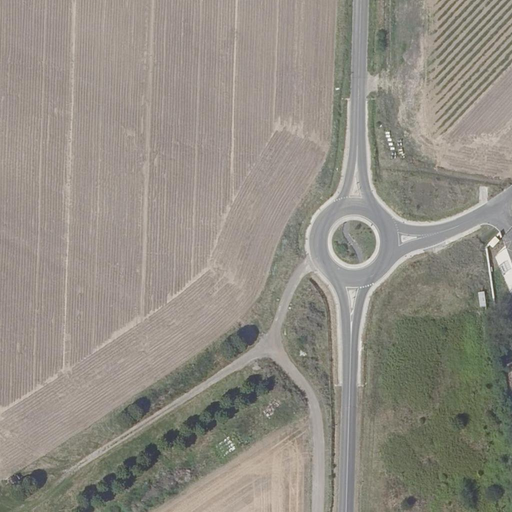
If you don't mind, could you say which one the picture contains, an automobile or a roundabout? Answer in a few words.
roundabout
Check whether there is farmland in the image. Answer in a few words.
Yes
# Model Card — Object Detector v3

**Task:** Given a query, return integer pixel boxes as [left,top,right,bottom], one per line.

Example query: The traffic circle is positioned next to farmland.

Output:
[309,150,422,335]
